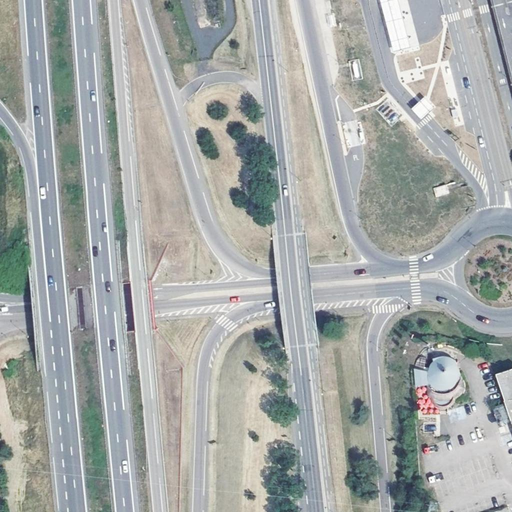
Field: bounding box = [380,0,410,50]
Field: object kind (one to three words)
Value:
building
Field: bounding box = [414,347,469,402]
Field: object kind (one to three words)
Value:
building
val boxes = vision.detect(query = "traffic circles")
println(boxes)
[436,208,512,336]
